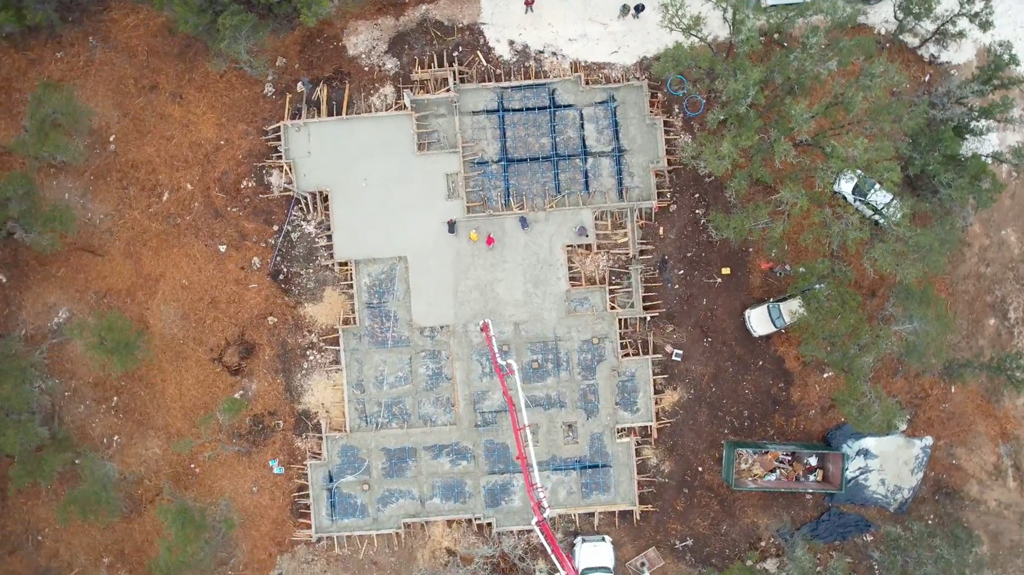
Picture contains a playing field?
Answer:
No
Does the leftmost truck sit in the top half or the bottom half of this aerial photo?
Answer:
bottom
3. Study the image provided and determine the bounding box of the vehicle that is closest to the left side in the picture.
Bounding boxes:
[477,318,622,575]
